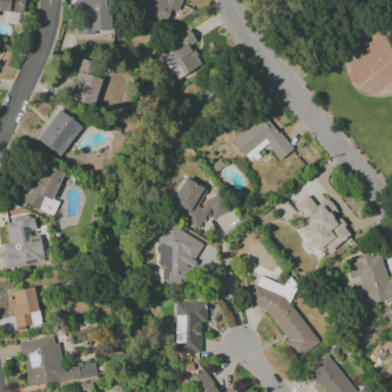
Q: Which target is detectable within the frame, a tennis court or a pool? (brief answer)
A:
pool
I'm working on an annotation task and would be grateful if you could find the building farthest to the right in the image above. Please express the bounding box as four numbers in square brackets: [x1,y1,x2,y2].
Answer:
[350,254,392,304]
